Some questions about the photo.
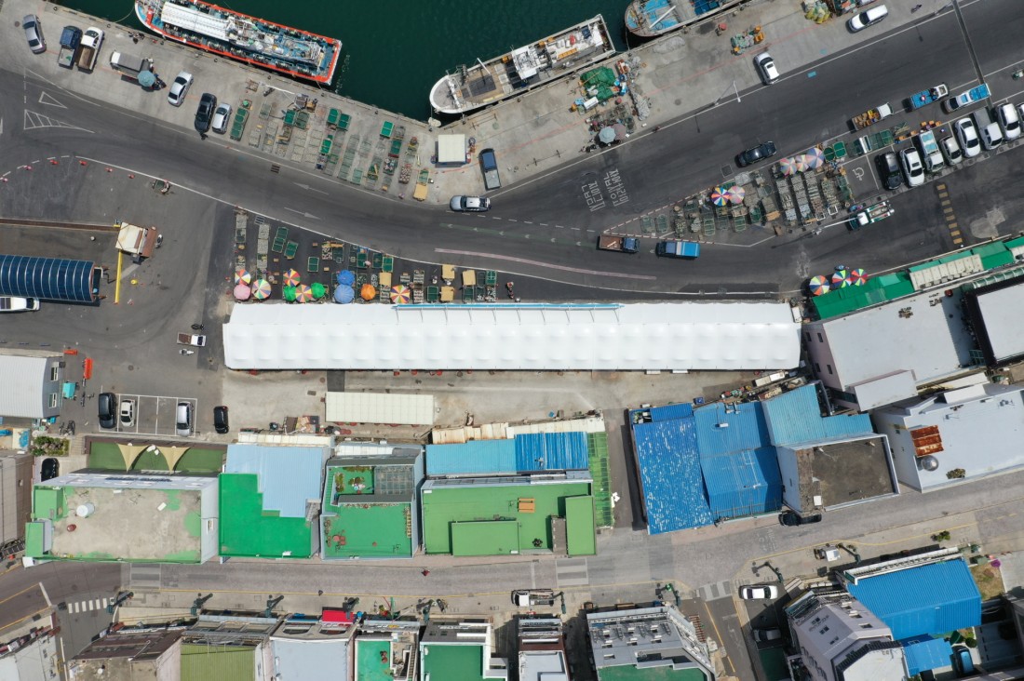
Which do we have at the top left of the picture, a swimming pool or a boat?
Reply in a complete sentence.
You can see a boat at the top left of the picture.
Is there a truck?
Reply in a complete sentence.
Yes, a truck is visible in the scene.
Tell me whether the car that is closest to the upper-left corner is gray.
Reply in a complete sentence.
Yes, the car that is closest to the upper-left corner is gray.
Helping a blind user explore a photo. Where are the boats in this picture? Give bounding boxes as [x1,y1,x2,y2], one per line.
[624,0,747,43]
[135,0,342,89]
[430,14,615,118]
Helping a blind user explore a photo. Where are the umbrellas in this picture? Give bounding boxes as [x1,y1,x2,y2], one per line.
[984,557,1000,568]
[612,124,627,141]
[296,286,312,302]
[779,158,796,175]
[283,287,297,301]
[284,269,301,286]
[809,275,829,295]
[806,149,824,168]
[728,186,744,203]
[312,283,326,297]
[234,284,251,301]
[831,269,851,288]
[598,126,616,144]
[712,188,730,207]
[138,69,157,87]
[252,279,271,298]
[236,270,251,285]
[391,285,410,302]
[795,156,810,172]
[335,285,355,302]
[361,285,376,300]
[338,269,355,286]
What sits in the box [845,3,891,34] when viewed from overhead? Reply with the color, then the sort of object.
white car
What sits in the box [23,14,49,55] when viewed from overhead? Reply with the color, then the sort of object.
gray car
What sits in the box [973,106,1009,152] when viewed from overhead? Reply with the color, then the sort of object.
gray truck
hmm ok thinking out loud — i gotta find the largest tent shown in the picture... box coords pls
[223,302,800,371]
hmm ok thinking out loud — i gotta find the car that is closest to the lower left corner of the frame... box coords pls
[40,456,61,483]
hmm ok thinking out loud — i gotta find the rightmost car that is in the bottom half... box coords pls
[950,643,977,676]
